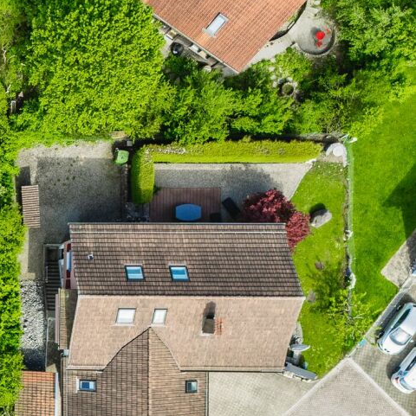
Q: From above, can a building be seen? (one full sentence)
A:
Yes, the picture does show a building.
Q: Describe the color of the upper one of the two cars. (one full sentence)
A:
The color of the upper one of the two cars is white.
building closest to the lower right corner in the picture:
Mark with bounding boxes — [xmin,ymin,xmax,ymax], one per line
[280,364,317,382]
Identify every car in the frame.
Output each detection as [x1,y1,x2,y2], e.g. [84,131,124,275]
[391,337,416,396]
[379,292,416,353]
